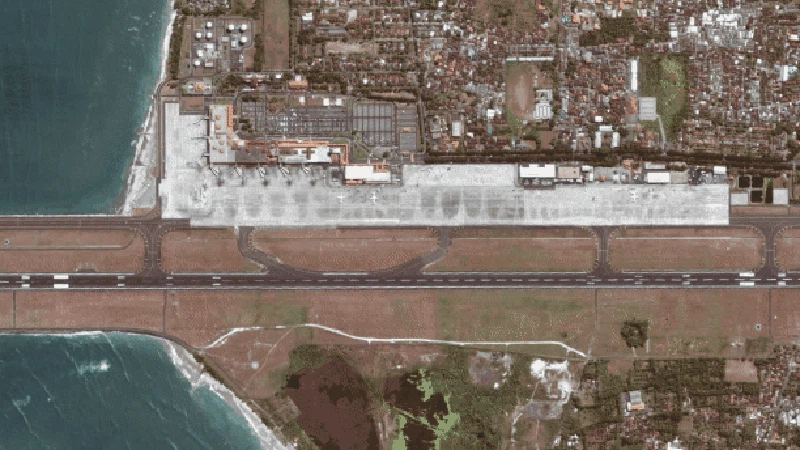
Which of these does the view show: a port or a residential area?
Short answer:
residential area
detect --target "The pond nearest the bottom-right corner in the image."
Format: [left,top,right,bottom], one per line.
[384,370,462,450]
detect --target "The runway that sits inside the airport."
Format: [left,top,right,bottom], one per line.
[0,270,800,291]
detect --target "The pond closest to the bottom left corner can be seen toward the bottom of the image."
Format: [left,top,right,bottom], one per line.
[284,357,380,450]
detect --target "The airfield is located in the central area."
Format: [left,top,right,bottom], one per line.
[0,102,800,291]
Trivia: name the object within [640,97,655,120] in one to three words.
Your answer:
building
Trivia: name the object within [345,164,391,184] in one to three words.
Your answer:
building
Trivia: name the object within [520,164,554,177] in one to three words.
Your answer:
hangar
